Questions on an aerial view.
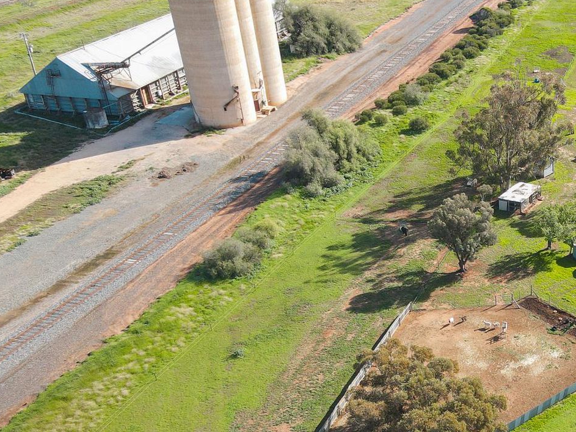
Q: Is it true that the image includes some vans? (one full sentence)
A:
No, there appears to be no van in this shot.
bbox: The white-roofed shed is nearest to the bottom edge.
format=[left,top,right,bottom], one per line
[488,183,547,214]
